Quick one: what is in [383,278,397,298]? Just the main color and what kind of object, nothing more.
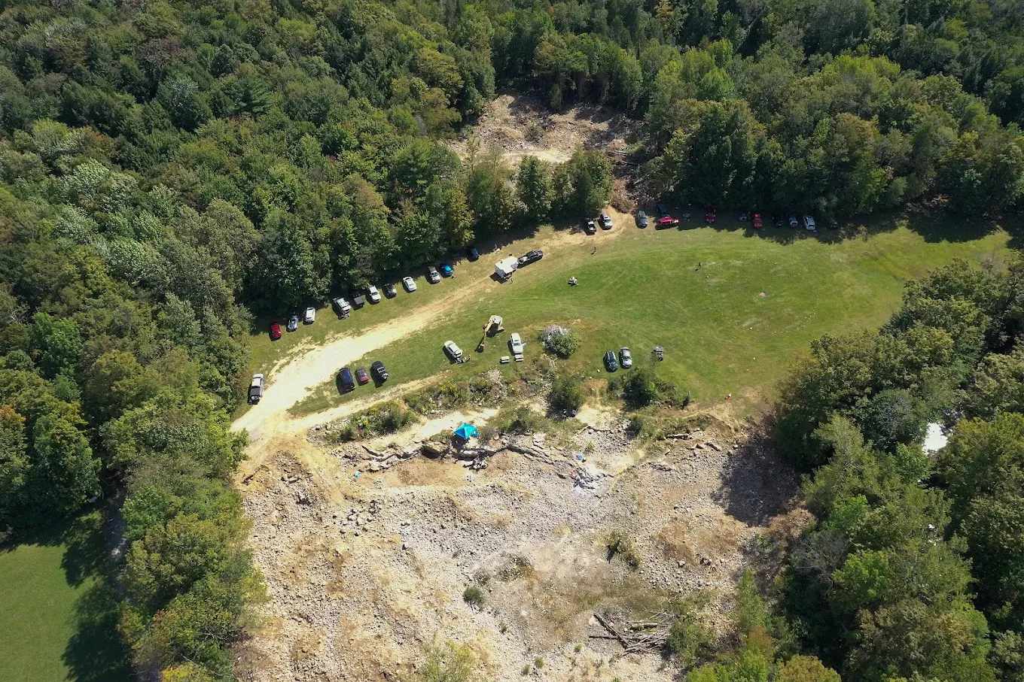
black vehicle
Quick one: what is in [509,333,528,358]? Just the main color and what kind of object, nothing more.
white vehicle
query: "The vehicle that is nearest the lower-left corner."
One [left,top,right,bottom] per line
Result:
[248,374,264,403]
